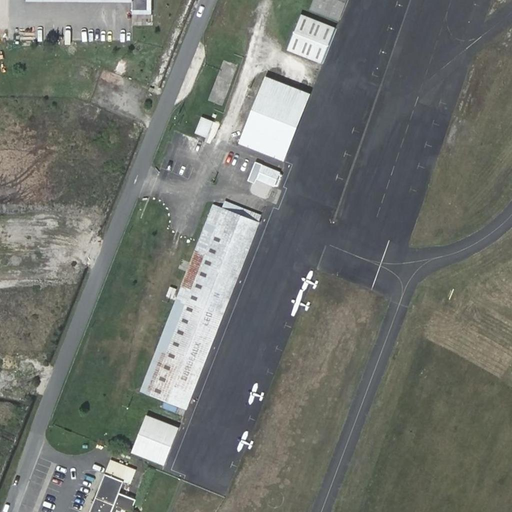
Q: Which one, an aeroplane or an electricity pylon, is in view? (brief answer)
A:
aeroplane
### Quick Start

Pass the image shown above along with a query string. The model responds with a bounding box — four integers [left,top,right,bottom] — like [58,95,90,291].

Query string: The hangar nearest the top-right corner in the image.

[286,13,338,68]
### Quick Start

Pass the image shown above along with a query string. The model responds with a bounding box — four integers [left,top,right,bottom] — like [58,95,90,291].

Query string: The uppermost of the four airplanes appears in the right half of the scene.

[302,270,320,292]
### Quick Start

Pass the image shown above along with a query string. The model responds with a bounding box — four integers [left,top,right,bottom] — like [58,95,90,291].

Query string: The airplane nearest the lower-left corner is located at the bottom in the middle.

[237,431,256,452]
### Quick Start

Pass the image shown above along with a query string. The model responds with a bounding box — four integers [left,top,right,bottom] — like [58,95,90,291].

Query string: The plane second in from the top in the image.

[290,290,311,316]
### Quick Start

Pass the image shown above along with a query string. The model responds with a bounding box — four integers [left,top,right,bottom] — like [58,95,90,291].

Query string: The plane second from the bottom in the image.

[248,384,266,404]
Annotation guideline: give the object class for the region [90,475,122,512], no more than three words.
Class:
building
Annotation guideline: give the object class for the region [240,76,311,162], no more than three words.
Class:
hangar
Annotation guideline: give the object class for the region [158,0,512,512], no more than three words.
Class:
airport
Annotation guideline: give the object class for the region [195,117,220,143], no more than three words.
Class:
shed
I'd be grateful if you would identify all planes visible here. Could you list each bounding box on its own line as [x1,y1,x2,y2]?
[237,431,256,452]
[290,290,311,316]
[302,270,320,292]
[248,384,266,404]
